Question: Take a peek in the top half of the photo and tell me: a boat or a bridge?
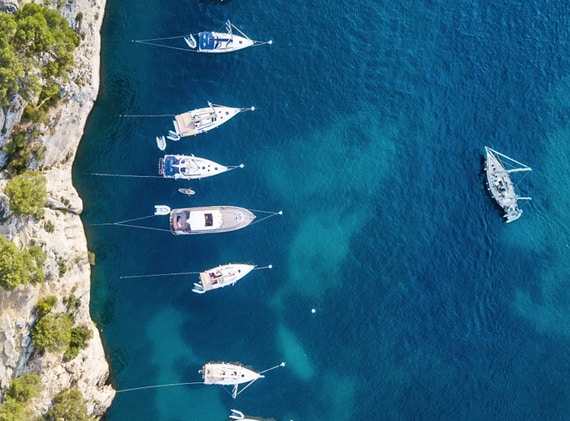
boat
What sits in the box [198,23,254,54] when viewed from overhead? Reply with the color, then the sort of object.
white boat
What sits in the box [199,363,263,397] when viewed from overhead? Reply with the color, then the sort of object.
white boat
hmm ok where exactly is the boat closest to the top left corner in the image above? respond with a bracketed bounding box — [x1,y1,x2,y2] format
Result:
[184,33,197,49]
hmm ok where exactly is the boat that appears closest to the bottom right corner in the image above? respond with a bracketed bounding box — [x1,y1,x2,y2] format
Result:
[503,209,522,223]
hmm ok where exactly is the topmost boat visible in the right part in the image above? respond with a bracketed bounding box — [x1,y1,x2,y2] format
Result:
[484,146,530,214]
